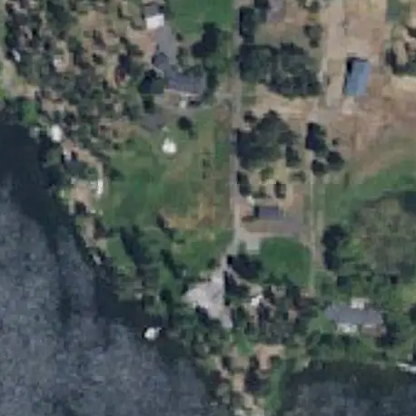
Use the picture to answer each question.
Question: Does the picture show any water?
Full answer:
Yes, some water is visible.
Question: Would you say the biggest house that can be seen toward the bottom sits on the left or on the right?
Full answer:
The biggest house that can be seen toward the bottom is on the right side of the image.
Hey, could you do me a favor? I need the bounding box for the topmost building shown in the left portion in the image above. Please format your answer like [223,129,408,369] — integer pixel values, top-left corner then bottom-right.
[145,1,166,31]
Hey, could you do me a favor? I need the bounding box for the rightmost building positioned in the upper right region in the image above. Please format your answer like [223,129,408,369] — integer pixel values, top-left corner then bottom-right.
[343,56,372,97]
